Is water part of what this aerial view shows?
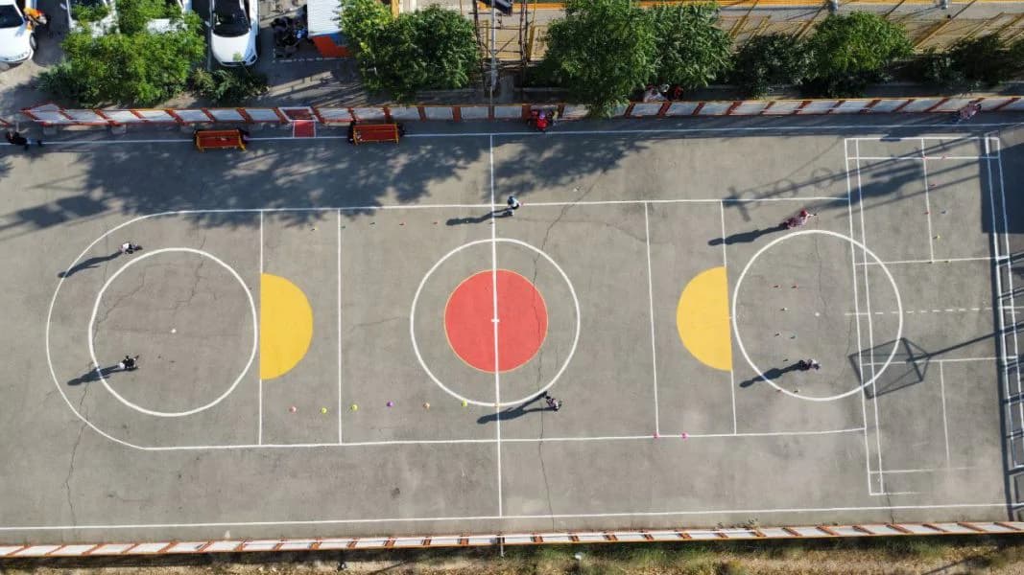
No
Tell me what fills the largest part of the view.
paved ground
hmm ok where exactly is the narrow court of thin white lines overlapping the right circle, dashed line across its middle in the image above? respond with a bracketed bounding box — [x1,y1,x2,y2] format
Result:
[845,136,1024,496]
